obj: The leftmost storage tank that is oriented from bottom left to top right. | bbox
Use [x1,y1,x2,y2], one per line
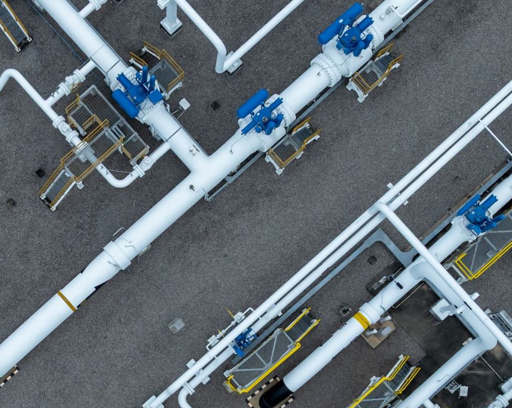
[238,89,267,117]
